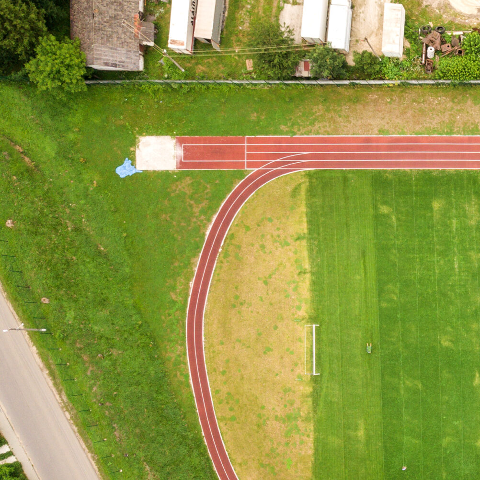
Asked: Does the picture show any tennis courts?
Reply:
No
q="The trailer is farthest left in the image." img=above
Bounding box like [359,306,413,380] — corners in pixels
[169,0,196,53]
